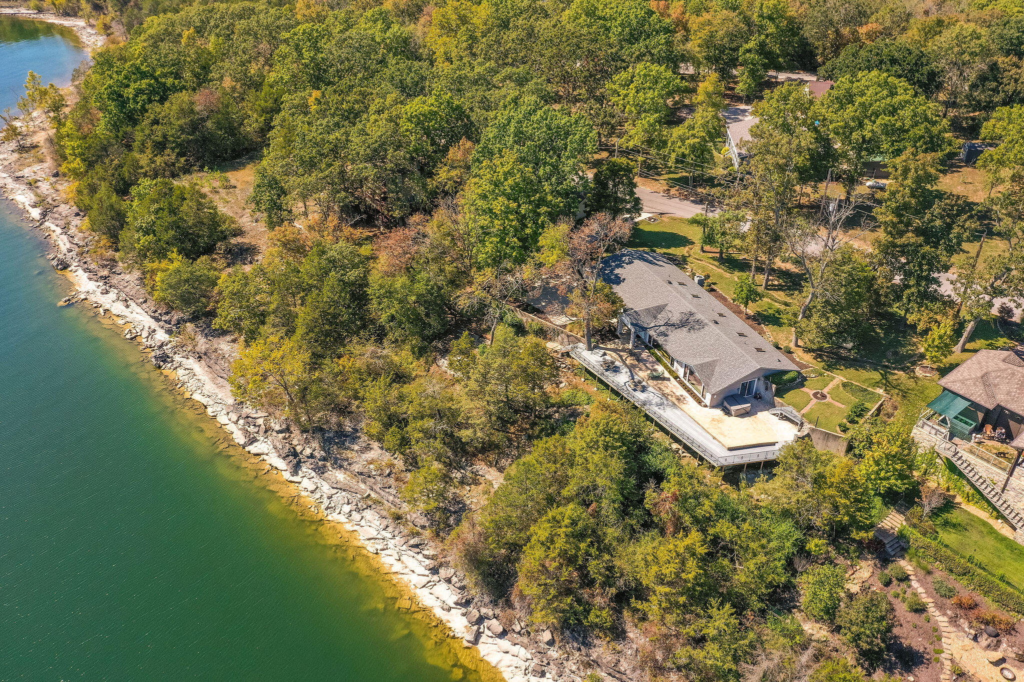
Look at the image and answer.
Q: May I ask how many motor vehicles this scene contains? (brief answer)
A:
zero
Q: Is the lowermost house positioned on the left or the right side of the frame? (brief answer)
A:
right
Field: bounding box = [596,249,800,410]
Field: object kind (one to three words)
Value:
house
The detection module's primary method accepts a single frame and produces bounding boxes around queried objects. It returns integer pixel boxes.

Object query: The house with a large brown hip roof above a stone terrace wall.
[937,349,1024,472]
